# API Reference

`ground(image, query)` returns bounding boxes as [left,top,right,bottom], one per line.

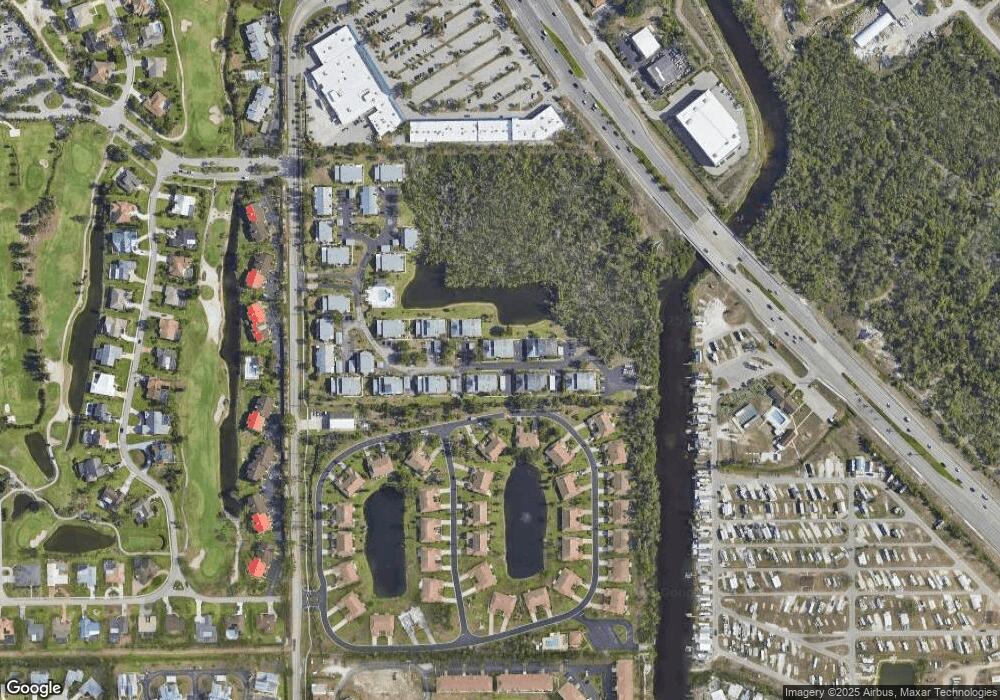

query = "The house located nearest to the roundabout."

[85,61,114,82]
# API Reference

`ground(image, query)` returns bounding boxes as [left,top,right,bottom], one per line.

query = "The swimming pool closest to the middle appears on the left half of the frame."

[368,287,394,307]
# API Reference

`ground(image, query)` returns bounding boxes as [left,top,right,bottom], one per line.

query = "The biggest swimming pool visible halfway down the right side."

[761,404,788,431]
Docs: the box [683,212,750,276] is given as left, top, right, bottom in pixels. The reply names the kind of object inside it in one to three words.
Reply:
bridge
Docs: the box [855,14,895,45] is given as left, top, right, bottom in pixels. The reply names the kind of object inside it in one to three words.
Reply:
shed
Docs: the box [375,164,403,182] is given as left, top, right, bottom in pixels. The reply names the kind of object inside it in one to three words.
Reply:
building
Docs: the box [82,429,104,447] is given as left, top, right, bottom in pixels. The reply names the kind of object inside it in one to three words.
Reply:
house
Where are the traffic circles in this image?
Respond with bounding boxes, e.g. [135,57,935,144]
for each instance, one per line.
[33,87,75,118]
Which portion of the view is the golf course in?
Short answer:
left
